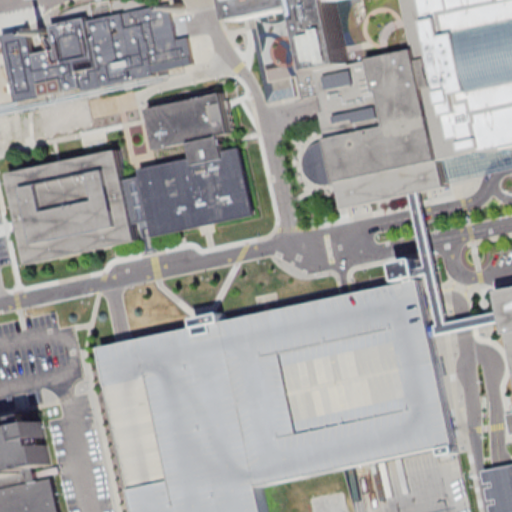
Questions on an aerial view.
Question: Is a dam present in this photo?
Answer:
No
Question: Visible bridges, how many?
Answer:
1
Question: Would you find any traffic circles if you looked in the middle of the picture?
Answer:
No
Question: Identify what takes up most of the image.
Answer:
buildings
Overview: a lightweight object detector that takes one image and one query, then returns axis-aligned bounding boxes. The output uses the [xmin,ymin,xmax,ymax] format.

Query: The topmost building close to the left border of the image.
[2,6,194,102]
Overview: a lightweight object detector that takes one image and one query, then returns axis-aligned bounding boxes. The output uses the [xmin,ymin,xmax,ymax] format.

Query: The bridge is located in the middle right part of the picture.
[407,186,497,335]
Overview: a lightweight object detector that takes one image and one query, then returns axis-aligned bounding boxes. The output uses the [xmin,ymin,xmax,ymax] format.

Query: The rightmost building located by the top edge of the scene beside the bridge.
[413,0,512,155]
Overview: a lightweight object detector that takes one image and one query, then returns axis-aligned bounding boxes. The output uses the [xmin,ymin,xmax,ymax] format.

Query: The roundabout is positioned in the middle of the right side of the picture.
[460,239,490,272]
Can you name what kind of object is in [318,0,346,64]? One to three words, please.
shed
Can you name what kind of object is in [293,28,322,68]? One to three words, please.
shed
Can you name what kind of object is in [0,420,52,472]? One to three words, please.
building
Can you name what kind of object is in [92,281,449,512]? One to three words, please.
building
